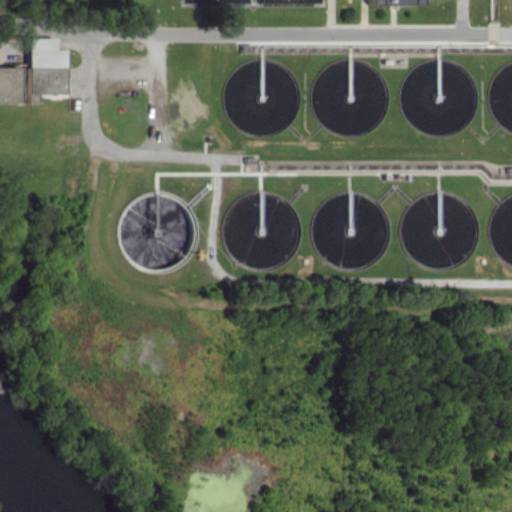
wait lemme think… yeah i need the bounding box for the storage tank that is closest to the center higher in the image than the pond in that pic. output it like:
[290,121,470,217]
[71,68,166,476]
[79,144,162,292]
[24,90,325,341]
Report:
[222,176,301,272]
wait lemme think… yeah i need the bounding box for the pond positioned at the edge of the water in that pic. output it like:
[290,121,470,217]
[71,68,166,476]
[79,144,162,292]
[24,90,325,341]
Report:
[184,458,252,512]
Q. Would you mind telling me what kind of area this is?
industrial area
